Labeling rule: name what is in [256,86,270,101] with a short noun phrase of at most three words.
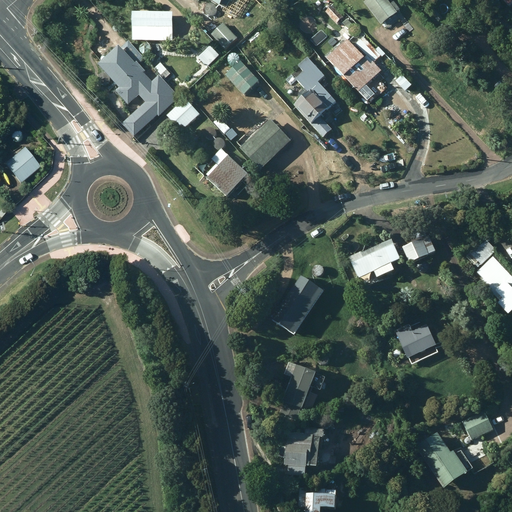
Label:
car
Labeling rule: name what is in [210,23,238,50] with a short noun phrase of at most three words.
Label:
shed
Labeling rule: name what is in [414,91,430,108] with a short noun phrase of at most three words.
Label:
vehicle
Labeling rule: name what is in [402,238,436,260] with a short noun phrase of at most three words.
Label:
house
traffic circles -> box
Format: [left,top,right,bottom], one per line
[86,175,133,222]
